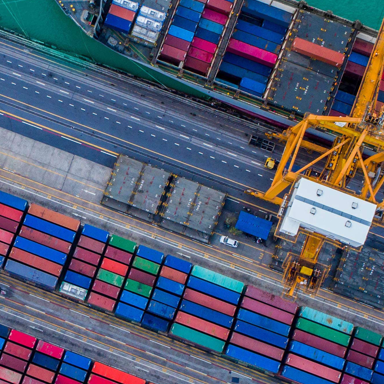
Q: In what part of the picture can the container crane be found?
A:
right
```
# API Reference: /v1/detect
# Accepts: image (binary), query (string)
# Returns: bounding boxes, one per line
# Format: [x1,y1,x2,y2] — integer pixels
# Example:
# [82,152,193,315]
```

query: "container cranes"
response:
[241,20,384,311]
